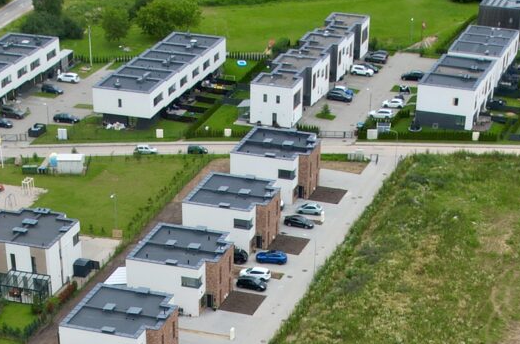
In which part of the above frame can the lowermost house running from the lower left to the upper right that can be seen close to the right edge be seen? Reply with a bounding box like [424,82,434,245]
[417,23,508,127]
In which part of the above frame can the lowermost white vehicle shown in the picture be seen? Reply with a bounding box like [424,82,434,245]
[240,266,272,282]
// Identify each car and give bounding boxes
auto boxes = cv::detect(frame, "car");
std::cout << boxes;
[0,107,24,119]
[295,205,325,217]
[364,64,383,74]
[53,114,79,124]
[380,99,405,109]
[282,217,313,230]
[364,54,386,65]
[334,86,355,95]
[182,145,209,156]
[350,65,373,76]
[256,250,287,265]
[56,72,80,83]
[233,249,256,265]
[0,118,13,128]
[237,277,267,292]
[40,84,62,94]
[240,266,272,282]
[328,90,352,102]
[401,72,425,82]
[133,145,157,156]
[280,199,297,212]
